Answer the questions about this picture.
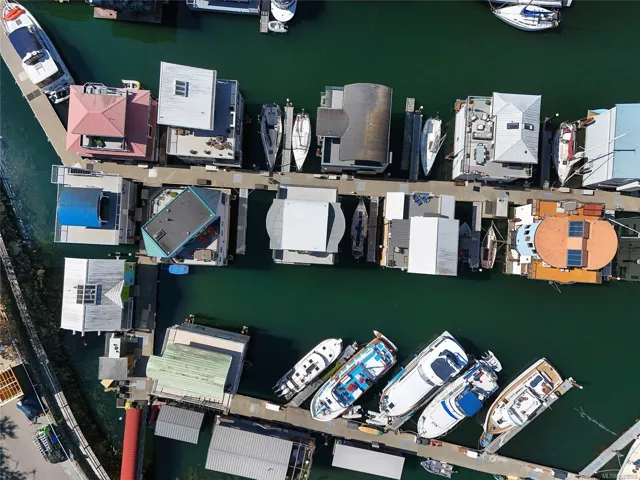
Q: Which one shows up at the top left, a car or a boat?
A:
boat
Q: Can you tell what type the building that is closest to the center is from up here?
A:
residential house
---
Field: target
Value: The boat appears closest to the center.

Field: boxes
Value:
[350,199,368,258]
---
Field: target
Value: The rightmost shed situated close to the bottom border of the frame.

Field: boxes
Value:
[332,435,407,479]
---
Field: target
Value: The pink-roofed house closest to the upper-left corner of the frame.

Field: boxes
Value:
[66,78,159,162]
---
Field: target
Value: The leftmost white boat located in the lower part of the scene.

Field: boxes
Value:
[278,337,344,398]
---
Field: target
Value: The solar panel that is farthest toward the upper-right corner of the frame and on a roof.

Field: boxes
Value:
[568,221,584,238]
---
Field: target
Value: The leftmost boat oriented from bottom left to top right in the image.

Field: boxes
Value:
[2,6,23,20]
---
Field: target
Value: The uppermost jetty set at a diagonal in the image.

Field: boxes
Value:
[286,345,357,410]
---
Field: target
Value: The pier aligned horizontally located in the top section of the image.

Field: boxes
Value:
[0,25,640,213]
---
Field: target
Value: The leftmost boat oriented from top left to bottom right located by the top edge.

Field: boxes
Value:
[0,0,76,105]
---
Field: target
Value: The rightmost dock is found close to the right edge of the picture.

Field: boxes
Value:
[577,419,640,477]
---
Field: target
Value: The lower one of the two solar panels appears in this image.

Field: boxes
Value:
[566,249,582,266]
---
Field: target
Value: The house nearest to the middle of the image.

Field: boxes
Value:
[266,186,346,265]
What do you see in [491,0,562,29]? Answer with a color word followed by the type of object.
white boat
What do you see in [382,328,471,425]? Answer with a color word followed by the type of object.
white boat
